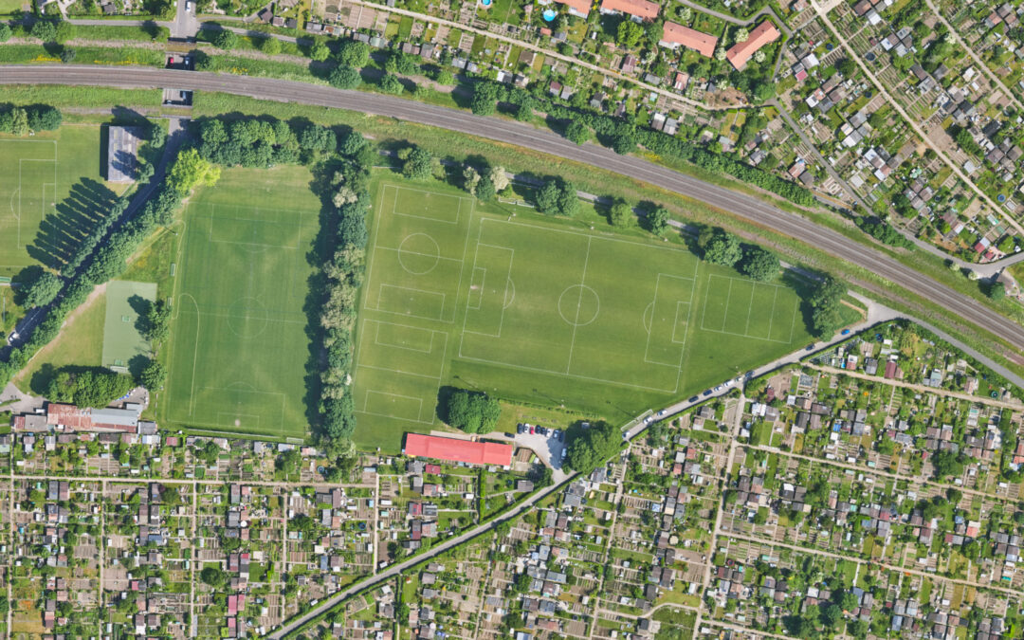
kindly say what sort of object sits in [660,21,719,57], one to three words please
house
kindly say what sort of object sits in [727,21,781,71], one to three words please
house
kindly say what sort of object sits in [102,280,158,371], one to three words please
sports court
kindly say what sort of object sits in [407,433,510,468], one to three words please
building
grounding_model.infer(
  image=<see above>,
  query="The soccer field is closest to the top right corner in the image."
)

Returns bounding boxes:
[455,215,702,395]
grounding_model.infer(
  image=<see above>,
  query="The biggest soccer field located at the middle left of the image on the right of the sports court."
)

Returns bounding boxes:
[160,202,328,439]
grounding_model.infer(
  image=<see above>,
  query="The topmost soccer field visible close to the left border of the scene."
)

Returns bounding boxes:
[0,138,59,270]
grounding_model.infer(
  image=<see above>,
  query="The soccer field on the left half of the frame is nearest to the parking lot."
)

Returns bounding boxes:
[352,318,448,425]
